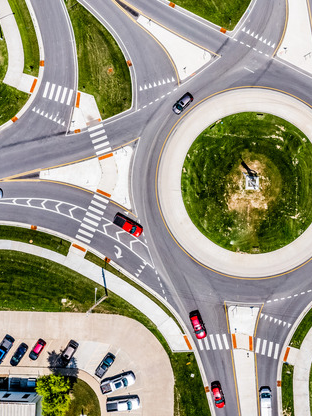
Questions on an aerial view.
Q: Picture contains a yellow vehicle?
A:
No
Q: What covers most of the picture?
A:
paved ground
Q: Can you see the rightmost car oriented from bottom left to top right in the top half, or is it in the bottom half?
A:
top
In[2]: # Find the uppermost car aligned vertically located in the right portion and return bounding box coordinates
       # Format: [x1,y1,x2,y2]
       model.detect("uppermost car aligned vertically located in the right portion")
[191,310,206,338]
